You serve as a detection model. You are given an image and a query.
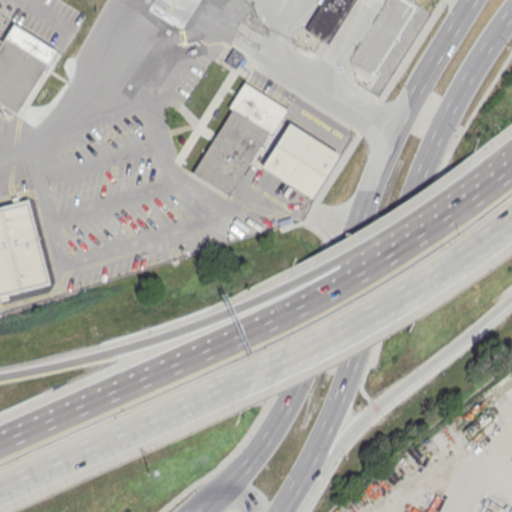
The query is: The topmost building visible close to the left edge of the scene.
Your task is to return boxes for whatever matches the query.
[4,22,58,64]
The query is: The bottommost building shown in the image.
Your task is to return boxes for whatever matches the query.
[0,194,54,303]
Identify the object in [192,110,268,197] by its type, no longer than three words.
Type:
building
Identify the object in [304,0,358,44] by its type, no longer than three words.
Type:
building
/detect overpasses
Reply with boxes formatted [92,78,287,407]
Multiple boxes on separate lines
[228,144,486,418]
